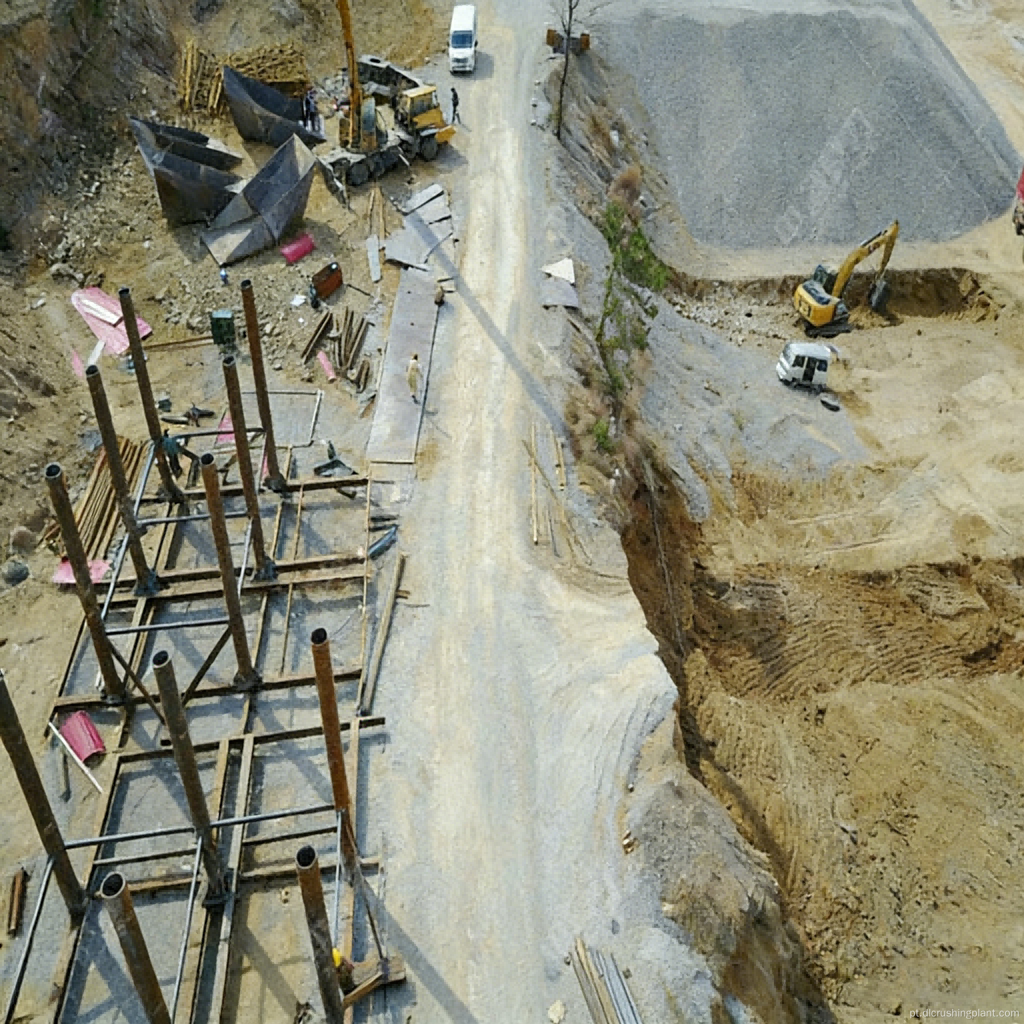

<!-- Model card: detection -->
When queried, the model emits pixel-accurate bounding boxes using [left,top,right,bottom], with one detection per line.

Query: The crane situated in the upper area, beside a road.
[305,0,457,205]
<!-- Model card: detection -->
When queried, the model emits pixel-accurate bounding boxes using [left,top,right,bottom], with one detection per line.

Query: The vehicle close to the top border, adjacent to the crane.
[446,0,478,68]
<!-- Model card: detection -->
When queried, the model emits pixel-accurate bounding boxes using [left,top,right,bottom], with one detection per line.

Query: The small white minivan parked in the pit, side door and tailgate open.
[771,331,844,389]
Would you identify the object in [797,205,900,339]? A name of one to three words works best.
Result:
work vehicle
